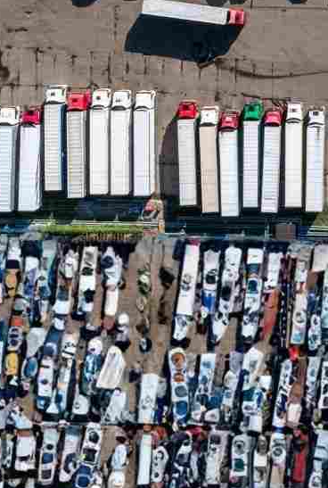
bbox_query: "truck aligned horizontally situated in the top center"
[139,0,245,29]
